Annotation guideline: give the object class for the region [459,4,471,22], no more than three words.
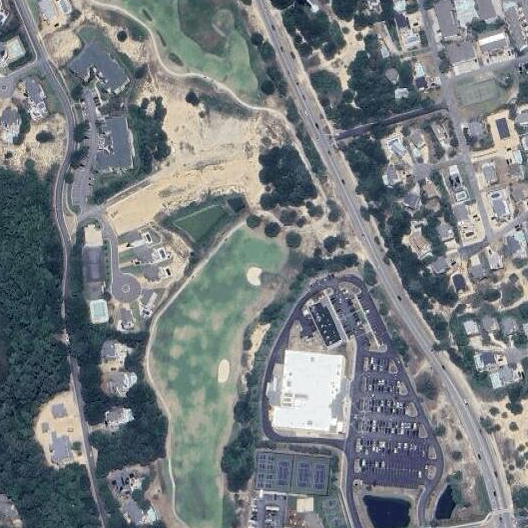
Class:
swimming pool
